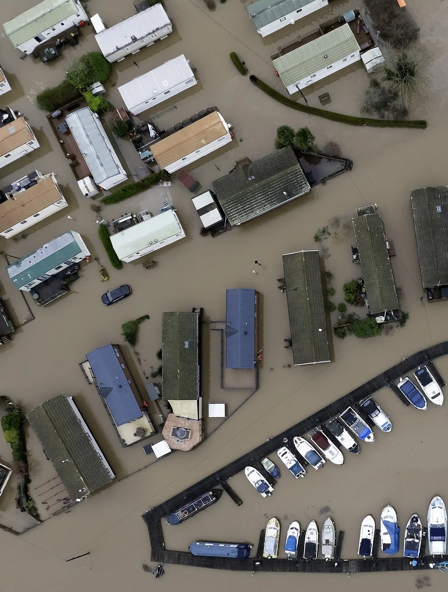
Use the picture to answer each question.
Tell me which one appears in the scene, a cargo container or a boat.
boat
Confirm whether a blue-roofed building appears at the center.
Yes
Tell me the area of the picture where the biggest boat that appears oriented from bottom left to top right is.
bottom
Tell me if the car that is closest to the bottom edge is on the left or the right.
left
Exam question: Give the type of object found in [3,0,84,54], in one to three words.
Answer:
camper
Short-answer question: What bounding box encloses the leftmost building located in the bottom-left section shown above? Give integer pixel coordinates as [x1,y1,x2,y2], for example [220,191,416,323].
[26,393,117,504]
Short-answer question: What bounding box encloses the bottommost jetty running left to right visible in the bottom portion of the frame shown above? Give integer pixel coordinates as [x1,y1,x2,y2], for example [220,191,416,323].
[150,548,448,572]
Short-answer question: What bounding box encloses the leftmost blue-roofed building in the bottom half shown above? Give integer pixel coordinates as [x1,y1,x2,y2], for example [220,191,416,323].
[86,344,147,426]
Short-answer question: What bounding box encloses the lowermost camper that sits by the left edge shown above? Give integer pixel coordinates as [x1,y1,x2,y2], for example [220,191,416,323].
[5,232,87,289]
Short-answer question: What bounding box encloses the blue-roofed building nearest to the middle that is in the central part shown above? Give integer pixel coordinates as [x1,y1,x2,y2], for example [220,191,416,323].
[226,288,257,369]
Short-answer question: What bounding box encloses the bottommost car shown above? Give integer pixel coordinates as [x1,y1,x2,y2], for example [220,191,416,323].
[102,284,135,306]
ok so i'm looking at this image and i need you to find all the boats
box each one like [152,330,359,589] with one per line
[398,377,426,410]
[245,466,273,496]
[404,514,422,557]
[341,407,374,443]
[304,520,319,558]
[284,521,300,556]
[155,560,166,579]
[358,514,375,559]
[189,538,252,558]
[328,418,360,453]
[308,427,342,464]
[380,505,400,558]
[167,487,225,524]
[265,517,280,560]
[360,398,390,431]
[160,205,173,211]
[428,496,447,558]
[414,364,443,405]
[294,437,326,467]
[264,458,280,478]
[279,447,305,477]
[320,518,337,561]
